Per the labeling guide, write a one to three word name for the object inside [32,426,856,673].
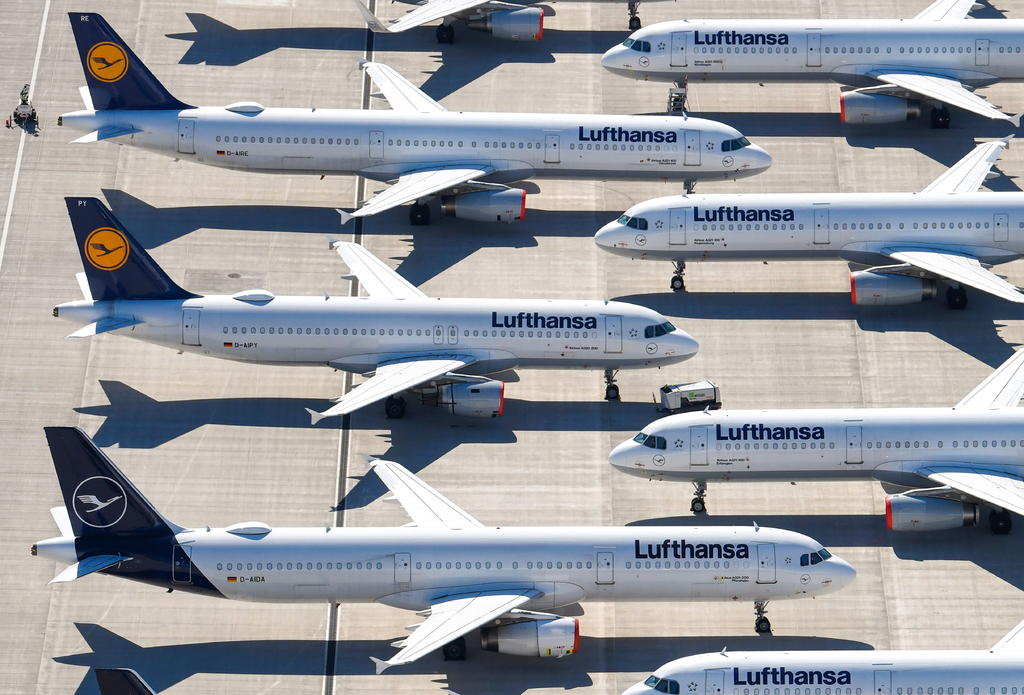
airplane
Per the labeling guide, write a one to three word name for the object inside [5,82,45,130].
trailer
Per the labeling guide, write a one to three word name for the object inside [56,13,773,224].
airplane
